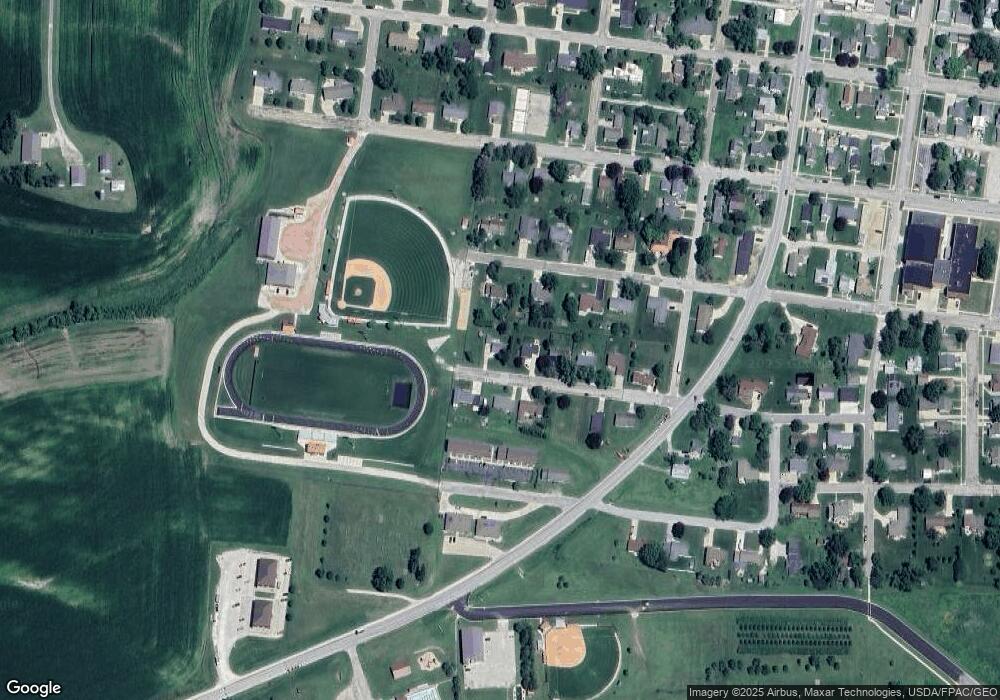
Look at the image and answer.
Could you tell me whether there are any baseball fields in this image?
Yes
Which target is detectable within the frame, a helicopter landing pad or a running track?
running track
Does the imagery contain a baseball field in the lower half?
Yes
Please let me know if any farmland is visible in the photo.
Yes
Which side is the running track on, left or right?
left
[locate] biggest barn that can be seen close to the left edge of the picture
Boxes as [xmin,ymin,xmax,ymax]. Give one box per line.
[22,132,42,165]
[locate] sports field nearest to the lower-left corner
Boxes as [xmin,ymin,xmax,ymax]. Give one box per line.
[235,344,416,425]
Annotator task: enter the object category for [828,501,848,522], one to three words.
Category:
house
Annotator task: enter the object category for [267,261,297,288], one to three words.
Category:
building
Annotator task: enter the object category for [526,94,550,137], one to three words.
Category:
sports court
